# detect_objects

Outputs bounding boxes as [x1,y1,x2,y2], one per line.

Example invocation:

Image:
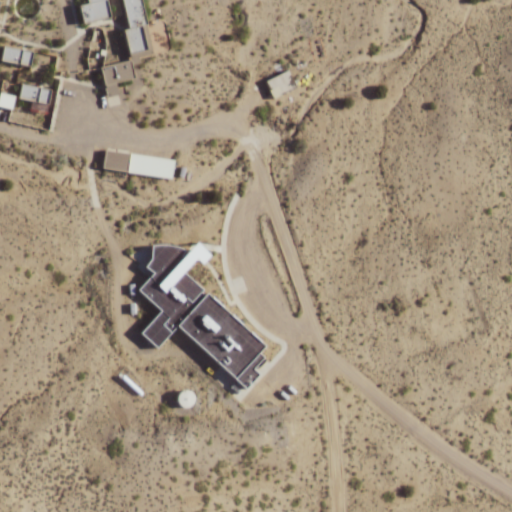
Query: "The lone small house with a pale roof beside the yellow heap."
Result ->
[266,70,296,97]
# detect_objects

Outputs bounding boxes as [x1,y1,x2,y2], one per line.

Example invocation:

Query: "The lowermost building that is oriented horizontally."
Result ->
[102,150,176,180]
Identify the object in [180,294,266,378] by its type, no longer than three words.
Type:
building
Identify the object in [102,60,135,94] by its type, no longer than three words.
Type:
building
